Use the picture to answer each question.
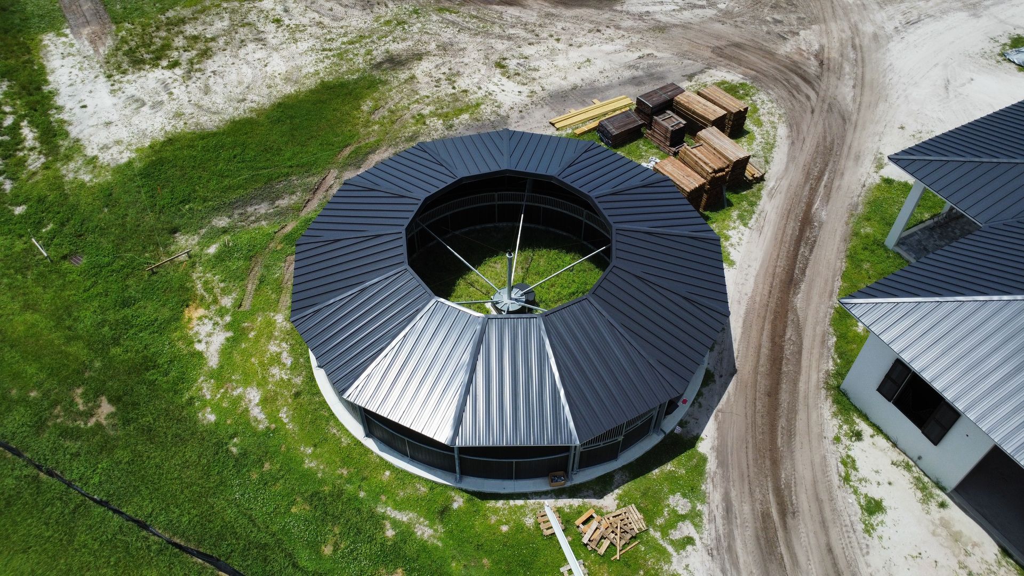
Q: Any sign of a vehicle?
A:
No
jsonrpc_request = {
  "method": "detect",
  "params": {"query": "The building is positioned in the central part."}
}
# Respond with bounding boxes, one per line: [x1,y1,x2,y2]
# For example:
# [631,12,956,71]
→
[289,127,731,494]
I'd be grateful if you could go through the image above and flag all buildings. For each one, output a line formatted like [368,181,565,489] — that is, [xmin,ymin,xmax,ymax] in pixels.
[289,127,731,494]
[837,96,1024,574]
